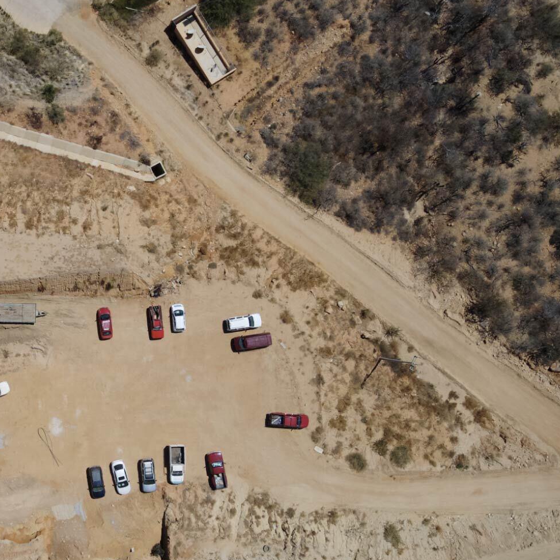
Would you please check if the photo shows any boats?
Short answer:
No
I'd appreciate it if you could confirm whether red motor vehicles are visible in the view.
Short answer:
Yes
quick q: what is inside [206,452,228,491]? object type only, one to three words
truck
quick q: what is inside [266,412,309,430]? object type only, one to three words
vehicle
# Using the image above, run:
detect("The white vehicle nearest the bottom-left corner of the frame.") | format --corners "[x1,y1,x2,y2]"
[110,460,131,495]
